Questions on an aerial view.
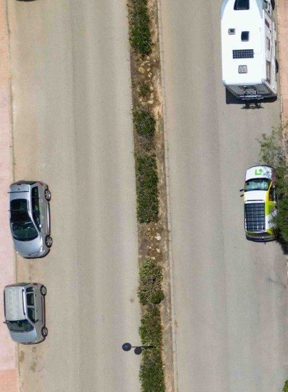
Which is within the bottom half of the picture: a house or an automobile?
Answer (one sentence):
You can see an automobile within the bottom half of the picture.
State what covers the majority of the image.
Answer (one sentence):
The scene is dominated by paved ground.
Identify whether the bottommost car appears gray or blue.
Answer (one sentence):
The color of the bottommost car is gray.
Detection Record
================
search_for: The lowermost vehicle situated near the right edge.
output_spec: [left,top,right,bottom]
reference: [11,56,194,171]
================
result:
[241,167,280,242]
